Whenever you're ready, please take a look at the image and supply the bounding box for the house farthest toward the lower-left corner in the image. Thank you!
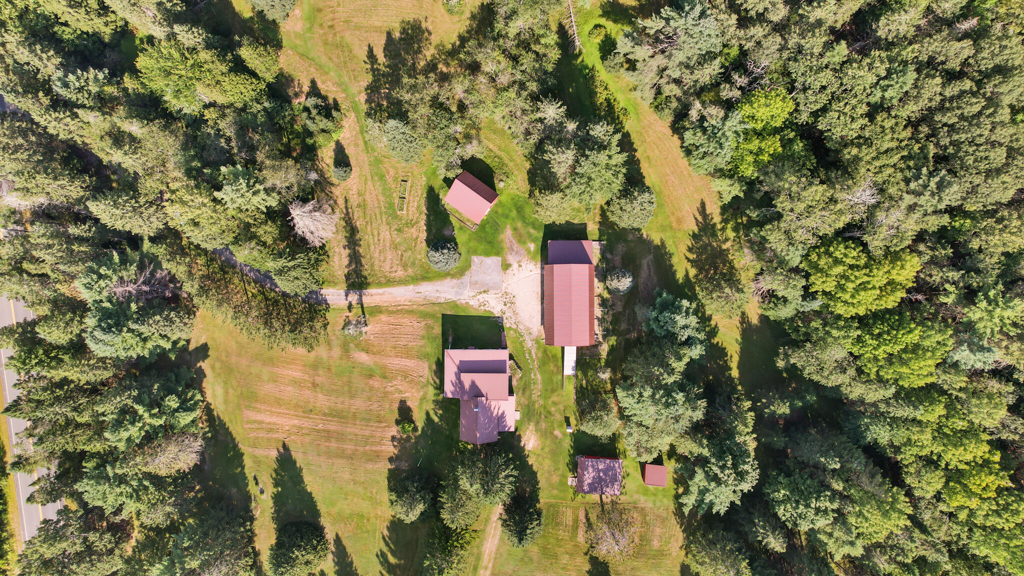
[440,346,520,445]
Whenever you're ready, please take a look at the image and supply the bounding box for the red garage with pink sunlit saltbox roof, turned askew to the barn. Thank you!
[444,170,499,225]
